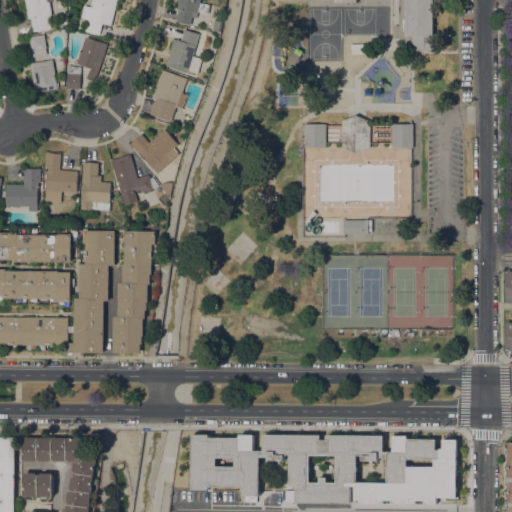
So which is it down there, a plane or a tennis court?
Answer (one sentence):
Visible in the photo is a tennis court.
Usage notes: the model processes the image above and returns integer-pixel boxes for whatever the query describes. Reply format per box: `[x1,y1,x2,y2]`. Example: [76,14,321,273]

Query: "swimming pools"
[50,35,64,58]
[71,34,83,58]
[10,212,34,224]
[186,84,202,110]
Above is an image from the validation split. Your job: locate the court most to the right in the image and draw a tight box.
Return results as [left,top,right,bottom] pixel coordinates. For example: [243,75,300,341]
[420,254,454,328]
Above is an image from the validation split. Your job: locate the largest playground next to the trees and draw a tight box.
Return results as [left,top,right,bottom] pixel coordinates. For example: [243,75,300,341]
[358,58,410,103]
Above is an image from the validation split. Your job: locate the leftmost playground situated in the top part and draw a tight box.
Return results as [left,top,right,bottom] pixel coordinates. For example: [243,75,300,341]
[272,44,306,74]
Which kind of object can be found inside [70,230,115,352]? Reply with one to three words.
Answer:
building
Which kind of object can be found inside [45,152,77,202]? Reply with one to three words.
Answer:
house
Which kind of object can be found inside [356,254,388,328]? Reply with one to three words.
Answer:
tennis court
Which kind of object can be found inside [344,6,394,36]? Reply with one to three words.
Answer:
basketball court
